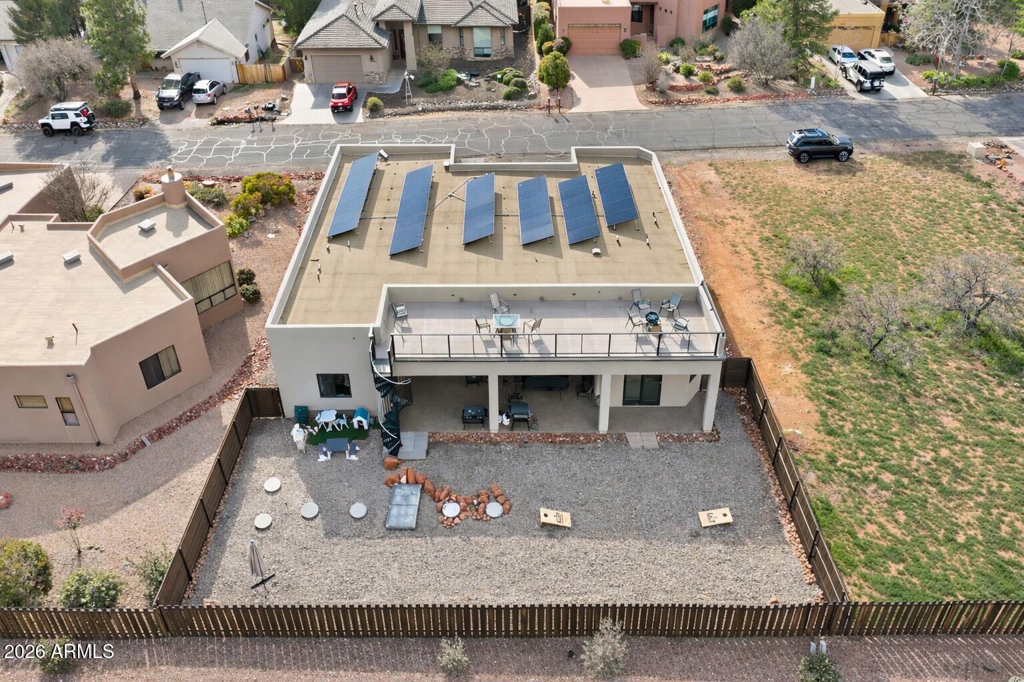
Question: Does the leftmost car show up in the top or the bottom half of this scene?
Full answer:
The leftmost car is in the top half of the image.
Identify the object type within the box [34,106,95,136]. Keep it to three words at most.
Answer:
car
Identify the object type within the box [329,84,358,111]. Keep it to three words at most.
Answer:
car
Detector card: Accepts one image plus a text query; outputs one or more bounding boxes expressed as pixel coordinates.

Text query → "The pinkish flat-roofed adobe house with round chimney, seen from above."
[0,162,243,449]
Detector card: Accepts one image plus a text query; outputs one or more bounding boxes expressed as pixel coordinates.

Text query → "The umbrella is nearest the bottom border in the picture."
[247,538,278,588]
